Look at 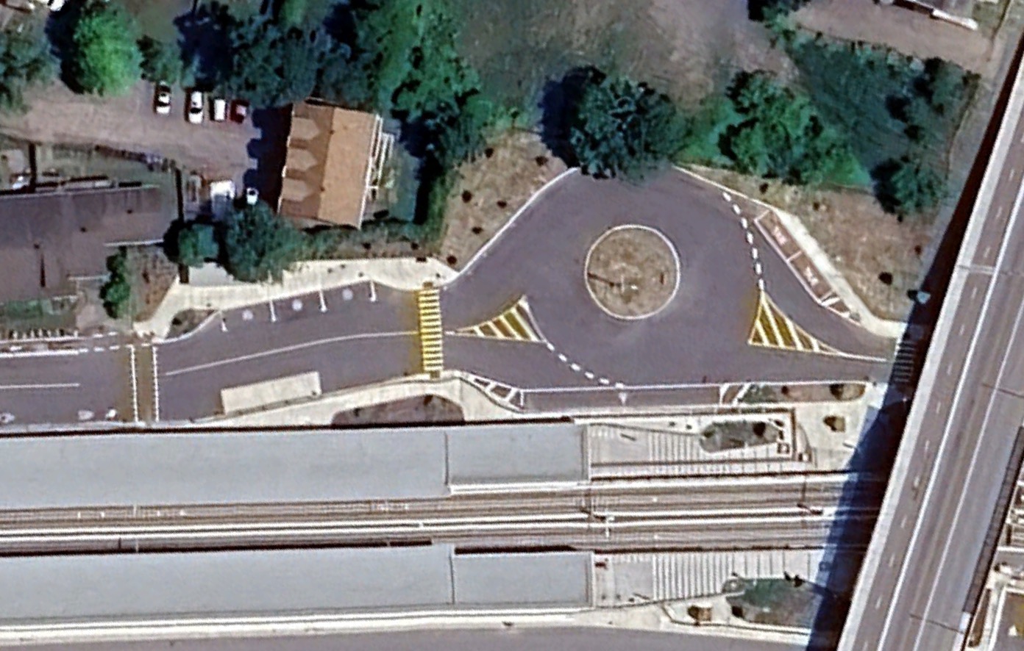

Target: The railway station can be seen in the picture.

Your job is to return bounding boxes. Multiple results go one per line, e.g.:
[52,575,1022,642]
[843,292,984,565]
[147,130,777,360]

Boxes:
[0,410,1024,626]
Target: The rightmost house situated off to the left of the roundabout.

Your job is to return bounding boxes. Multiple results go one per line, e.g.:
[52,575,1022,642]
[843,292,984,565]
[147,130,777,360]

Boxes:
[277,102,377,229]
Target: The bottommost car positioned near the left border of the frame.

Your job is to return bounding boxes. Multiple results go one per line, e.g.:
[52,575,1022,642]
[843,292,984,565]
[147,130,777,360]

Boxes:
[8,166,27,189]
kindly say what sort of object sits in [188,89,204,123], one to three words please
car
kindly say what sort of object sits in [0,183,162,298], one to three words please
building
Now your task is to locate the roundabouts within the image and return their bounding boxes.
[443,152,938,409]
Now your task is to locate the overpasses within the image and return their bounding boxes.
[838,46,1024,651]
